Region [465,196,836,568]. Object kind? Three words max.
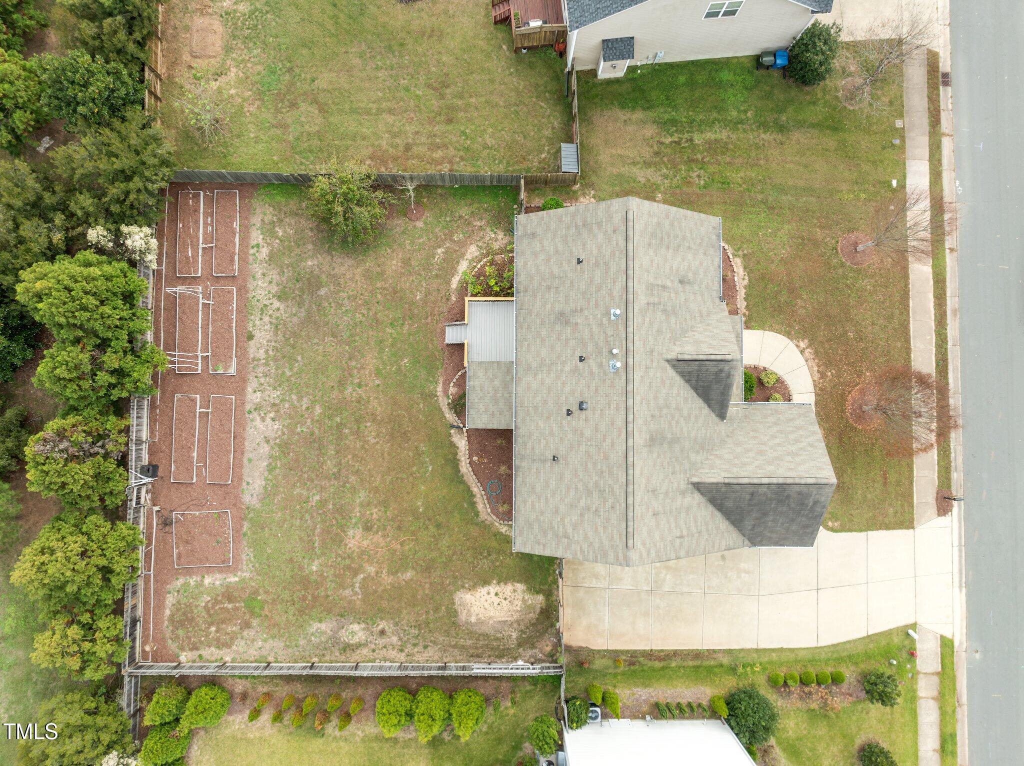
house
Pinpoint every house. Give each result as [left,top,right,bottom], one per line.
[465,196,836,568]
[563,0,829,78]
[561,711,764,766]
